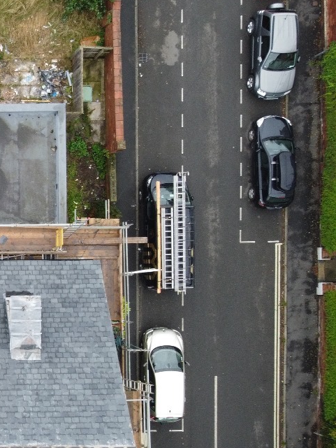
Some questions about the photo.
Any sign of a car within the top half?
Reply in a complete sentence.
Yes, there is a car within the top half.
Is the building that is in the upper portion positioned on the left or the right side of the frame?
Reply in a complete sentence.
The building that is in the upper portion appears in the left half of the scene.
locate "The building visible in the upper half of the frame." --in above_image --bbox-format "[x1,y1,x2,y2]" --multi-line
[0,104,65,221]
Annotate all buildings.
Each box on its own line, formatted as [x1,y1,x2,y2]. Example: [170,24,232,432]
[0,259,135,448]
[0,104,65,221]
